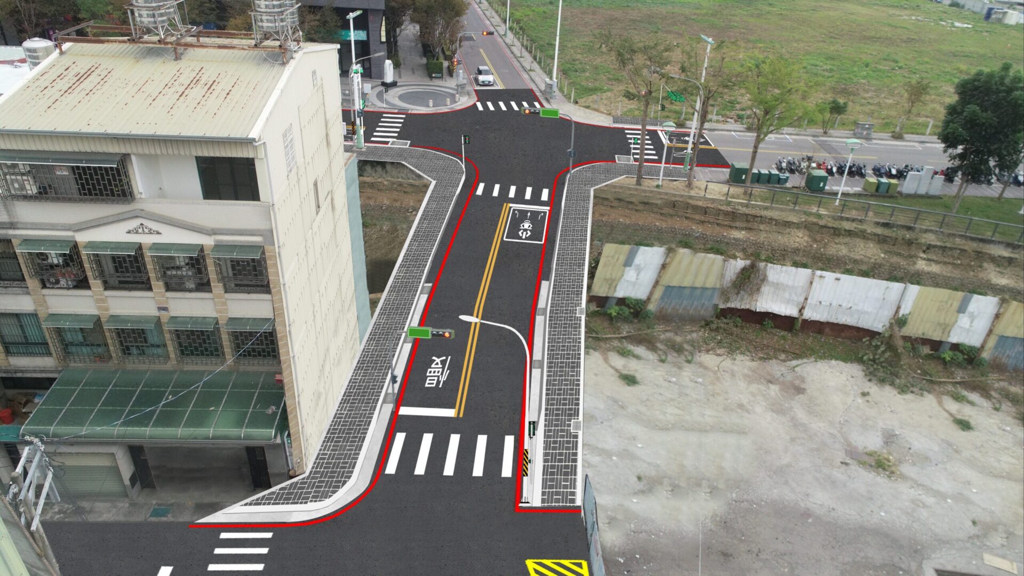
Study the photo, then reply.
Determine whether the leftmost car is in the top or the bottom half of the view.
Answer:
top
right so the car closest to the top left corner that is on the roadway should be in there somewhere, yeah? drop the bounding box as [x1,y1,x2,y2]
[471,64,492,84]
